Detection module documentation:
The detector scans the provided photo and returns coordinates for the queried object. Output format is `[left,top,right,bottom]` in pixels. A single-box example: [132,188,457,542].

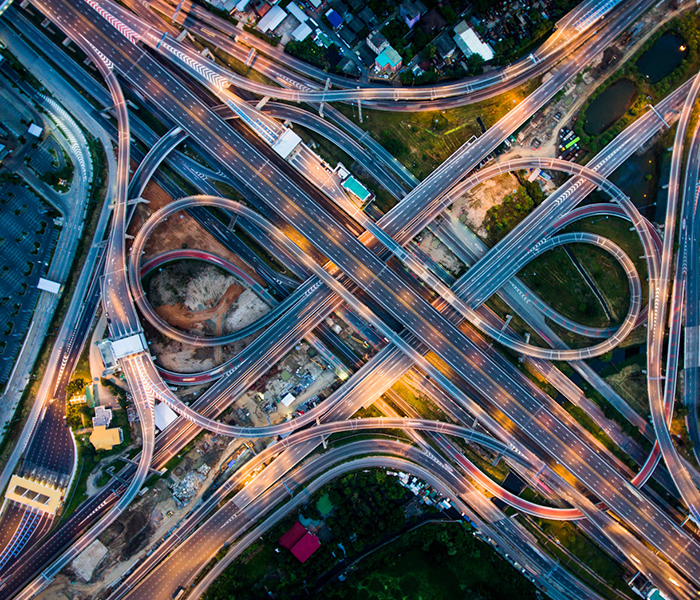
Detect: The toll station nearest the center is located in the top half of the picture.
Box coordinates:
[278,128,308,160]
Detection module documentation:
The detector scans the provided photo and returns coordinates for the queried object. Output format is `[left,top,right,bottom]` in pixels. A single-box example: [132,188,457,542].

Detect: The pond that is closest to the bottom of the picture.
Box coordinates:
[606,146,664,233]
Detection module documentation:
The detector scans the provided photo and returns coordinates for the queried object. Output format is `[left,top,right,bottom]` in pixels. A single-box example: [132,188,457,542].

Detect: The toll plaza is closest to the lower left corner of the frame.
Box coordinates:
[4,469,65,513]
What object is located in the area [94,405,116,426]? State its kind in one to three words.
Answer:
house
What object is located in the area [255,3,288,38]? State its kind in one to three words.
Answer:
building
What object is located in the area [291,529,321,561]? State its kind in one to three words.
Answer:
building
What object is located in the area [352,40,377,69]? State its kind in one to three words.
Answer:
house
